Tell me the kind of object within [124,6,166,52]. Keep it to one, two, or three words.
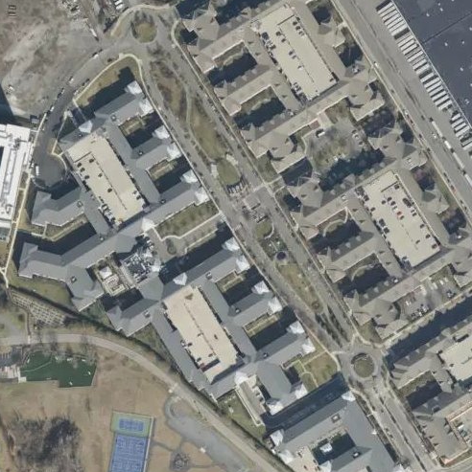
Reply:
roundabout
